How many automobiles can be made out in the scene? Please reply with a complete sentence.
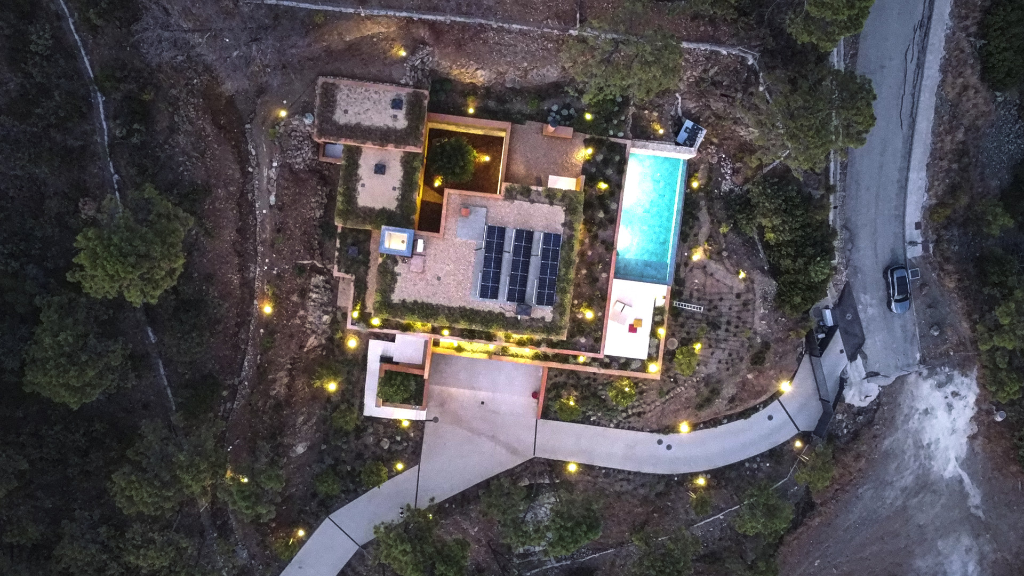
In total, there is 1 automobile in the scene.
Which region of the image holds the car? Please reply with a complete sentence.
Look in the right portion of the view to spot the car.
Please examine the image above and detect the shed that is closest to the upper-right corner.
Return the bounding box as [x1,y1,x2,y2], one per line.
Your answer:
[671,119,707,150]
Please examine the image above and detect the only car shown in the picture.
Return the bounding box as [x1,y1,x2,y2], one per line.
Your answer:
[885,265,915,314]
